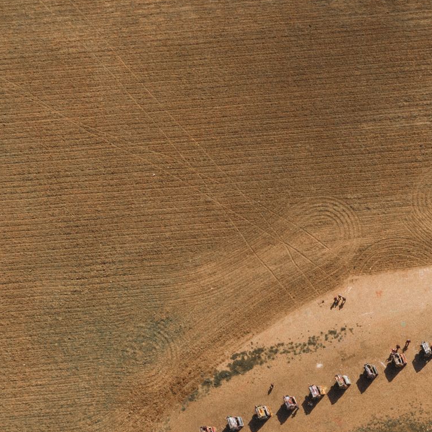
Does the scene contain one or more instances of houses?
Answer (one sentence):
No, there isn't any house down there.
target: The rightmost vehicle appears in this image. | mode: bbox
[419,339,432,355]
